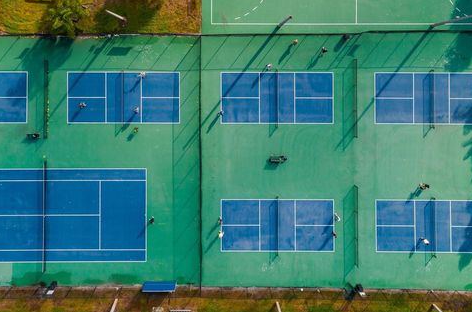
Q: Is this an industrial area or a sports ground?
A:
sports ground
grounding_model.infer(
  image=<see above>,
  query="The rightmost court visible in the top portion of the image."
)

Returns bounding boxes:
[374,73,472,124]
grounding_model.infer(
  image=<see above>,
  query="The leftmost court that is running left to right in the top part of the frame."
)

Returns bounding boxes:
[67,71,180,123]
